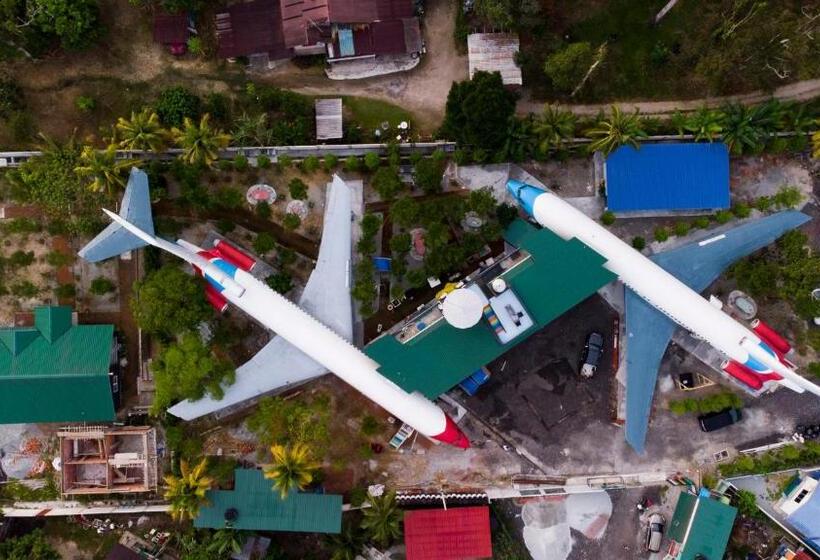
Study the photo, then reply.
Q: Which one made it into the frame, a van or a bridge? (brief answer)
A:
van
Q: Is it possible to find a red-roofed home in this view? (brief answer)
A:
Yes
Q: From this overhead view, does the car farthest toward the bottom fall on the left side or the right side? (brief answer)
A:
right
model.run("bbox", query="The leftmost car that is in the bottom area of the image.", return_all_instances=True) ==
[579,332,604,377]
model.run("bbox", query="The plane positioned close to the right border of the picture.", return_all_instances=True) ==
[508,183,820,456]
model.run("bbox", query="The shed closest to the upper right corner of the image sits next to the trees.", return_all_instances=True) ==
[597,143,730,214]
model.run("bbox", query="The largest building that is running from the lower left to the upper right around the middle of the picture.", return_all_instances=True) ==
[364,220,616,401]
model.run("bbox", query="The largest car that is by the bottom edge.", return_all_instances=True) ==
[644,511,665,554]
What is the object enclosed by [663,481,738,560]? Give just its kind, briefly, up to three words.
house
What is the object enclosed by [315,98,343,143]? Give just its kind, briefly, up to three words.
shed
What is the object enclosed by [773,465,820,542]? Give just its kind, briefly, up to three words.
house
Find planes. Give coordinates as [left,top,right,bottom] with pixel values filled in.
[508,183,820,456]
[77,167,468,446]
